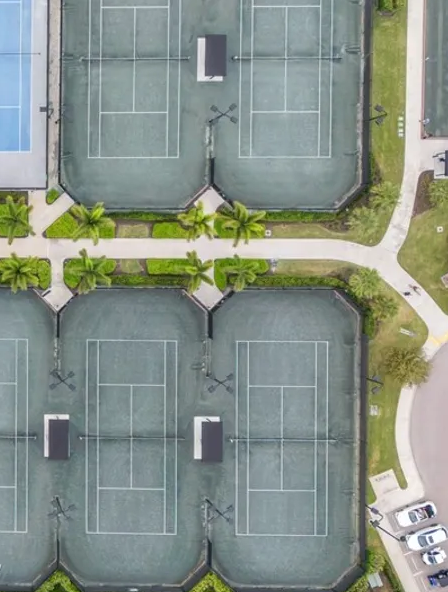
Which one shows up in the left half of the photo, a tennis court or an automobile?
tennis court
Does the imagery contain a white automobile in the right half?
Yes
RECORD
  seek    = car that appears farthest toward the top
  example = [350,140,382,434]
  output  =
[392,498,439,525]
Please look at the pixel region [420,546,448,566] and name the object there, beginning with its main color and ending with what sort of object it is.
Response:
white car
